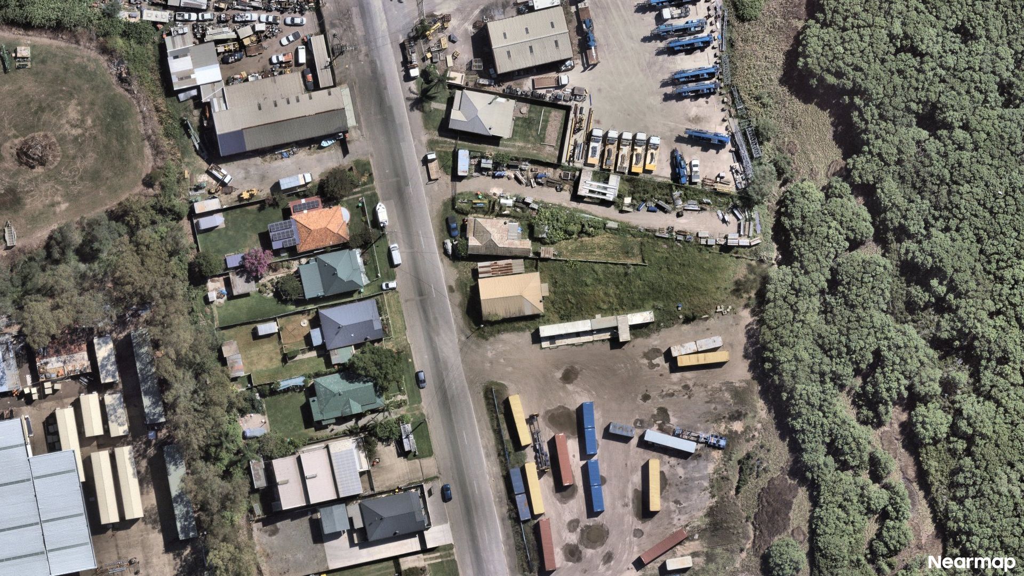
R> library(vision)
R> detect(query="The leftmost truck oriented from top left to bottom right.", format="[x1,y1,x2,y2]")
[206,163,234,186]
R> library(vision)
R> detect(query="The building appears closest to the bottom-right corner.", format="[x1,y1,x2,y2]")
[539,314,631,349]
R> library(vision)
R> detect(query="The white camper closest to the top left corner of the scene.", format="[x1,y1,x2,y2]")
[143,10,174,22]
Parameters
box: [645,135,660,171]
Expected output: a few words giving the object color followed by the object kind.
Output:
white vehicle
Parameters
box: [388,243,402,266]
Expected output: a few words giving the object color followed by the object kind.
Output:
white vehicle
